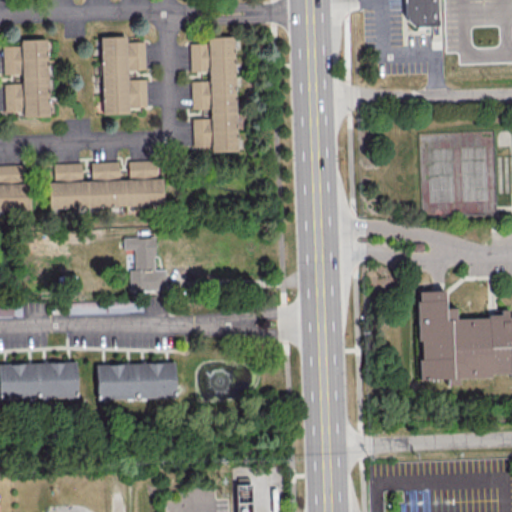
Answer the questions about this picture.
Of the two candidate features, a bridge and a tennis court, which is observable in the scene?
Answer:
tennis court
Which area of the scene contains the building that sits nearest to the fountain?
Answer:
bottom left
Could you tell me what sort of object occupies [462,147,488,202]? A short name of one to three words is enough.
tennis court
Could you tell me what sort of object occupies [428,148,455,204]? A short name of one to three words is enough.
tennis court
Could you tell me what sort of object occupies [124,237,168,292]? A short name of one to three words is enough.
house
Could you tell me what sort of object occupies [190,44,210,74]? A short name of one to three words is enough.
building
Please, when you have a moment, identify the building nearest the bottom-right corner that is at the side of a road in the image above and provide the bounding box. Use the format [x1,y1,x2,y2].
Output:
[420,292,512,382]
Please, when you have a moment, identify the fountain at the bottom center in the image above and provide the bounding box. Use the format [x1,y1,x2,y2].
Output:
[206,368,232,392]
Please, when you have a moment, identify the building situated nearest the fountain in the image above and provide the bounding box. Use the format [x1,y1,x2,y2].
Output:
[97,362,177,400]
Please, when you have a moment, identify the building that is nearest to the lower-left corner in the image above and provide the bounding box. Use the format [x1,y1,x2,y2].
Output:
[0,362,78,400]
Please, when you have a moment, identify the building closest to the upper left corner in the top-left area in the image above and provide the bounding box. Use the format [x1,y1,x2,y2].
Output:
[2,46,21,76]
